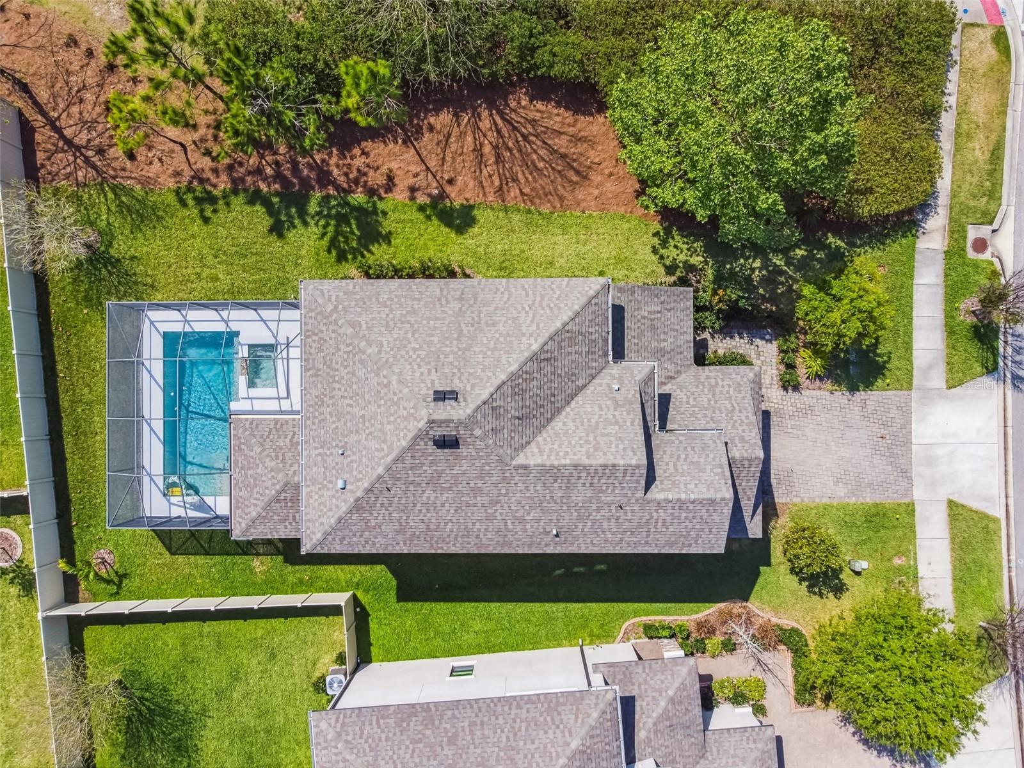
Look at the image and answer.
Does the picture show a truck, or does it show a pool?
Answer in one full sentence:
Of the two, only a pool appears.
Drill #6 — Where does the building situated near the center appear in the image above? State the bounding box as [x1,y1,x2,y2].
[227,277,763,553]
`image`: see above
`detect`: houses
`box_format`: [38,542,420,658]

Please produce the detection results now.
[227,277,763,553]
[307,641,778,768]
